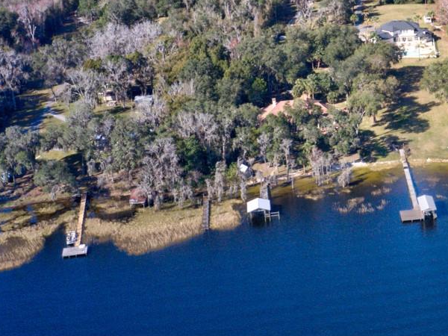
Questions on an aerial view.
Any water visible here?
Yes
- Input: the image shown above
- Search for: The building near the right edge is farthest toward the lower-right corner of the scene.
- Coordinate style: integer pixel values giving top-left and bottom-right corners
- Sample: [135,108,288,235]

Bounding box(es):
[416,191,438,224]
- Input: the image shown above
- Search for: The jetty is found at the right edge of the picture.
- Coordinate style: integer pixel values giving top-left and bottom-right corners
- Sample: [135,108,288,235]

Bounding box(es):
[398,147,426,226]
